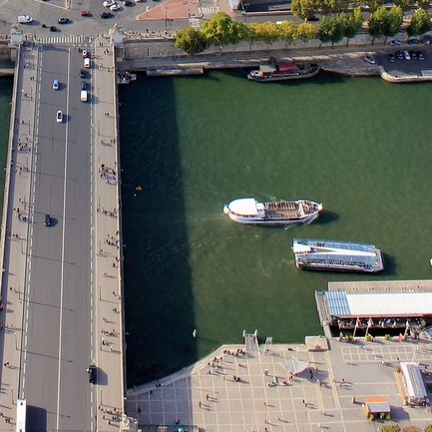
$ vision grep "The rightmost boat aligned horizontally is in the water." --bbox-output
[292,241,386,275]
